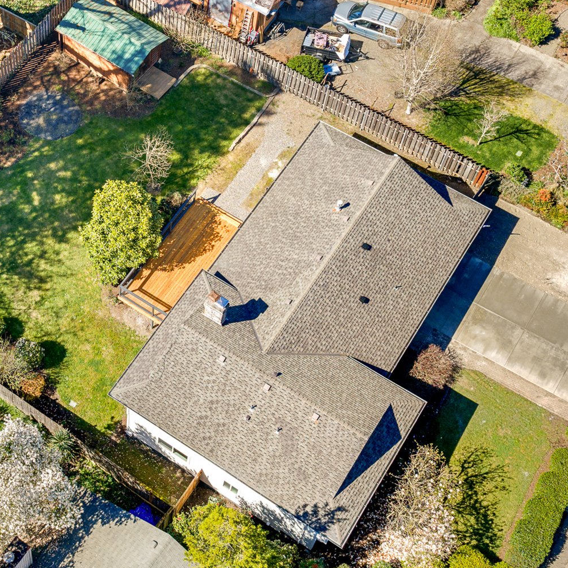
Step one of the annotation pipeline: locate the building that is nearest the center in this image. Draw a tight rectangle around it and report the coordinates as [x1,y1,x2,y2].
[105,121,496,552]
